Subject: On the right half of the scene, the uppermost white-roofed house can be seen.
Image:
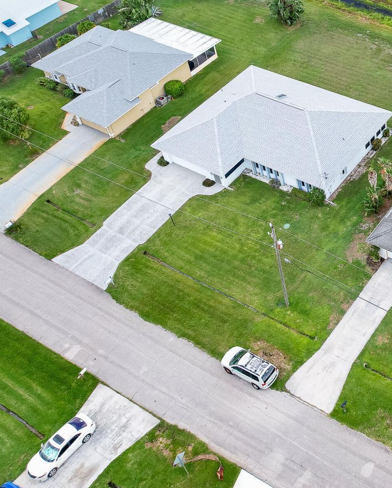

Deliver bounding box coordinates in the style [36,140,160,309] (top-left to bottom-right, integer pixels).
[149,65,392,208]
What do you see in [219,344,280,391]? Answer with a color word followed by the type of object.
white car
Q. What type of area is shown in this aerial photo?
residential area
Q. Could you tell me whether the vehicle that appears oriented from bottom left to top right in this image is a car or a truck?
car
